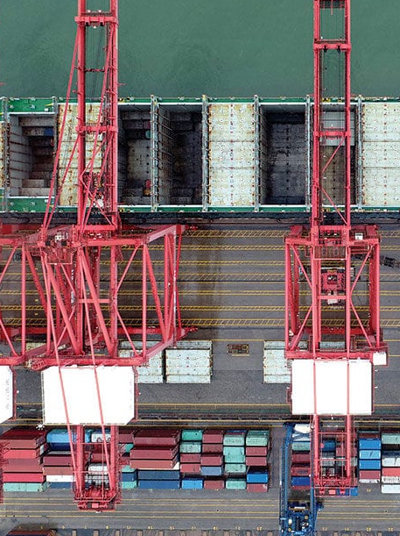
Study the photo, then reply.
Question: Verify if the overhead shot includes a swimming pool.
No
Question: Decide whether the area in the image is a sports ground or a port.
port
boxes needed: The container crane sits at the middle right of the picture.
[270,0,393,495]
